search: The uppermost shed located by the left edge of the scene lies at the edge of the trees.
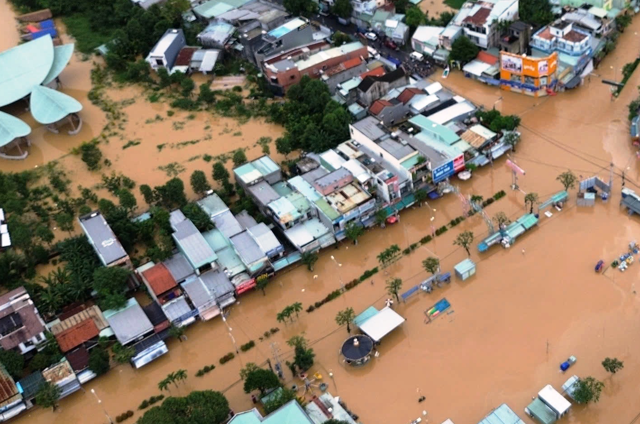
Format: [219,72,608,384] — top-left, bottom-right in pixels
[15,8,56,33]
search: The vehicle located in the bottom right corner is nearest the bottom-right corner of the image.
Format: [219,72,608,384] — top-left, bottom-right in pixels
[560,352,579,371]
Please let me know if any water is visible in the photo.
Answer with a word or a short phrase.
Yes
